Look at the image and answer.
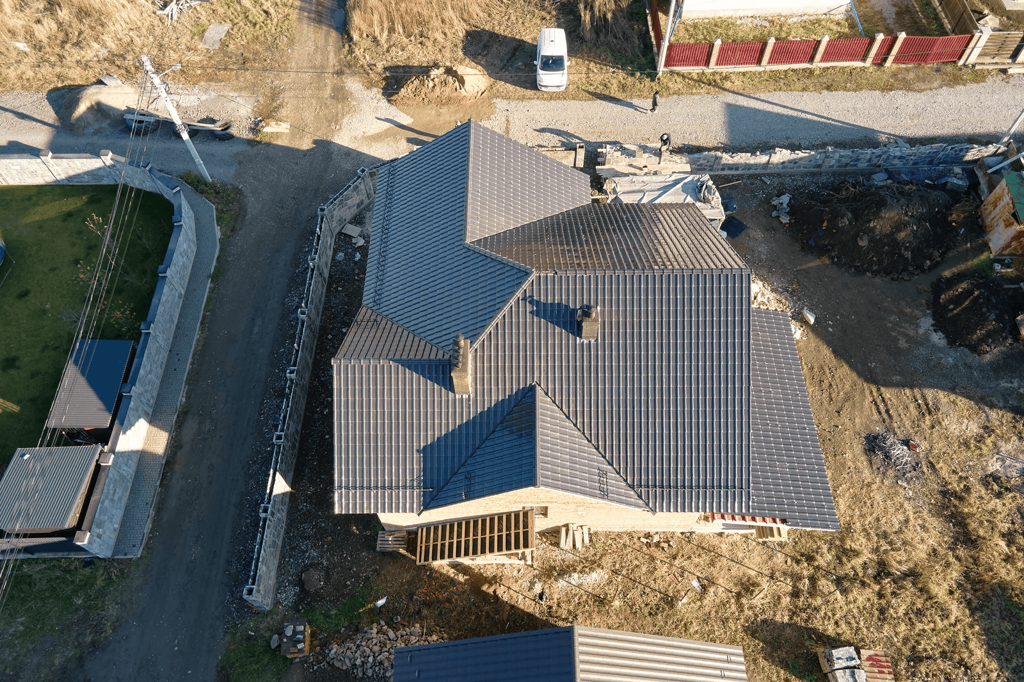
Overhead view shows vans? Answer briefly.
Yes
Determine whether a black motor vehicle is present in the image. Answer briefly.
No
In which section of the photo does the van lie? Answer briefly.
top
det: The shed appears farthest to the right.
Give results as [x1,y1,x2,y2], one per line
[970,142,1024,264]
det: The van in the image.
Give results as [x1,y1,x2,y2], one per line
[535,31,569,89]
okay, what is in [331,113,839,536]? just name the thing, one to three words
house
